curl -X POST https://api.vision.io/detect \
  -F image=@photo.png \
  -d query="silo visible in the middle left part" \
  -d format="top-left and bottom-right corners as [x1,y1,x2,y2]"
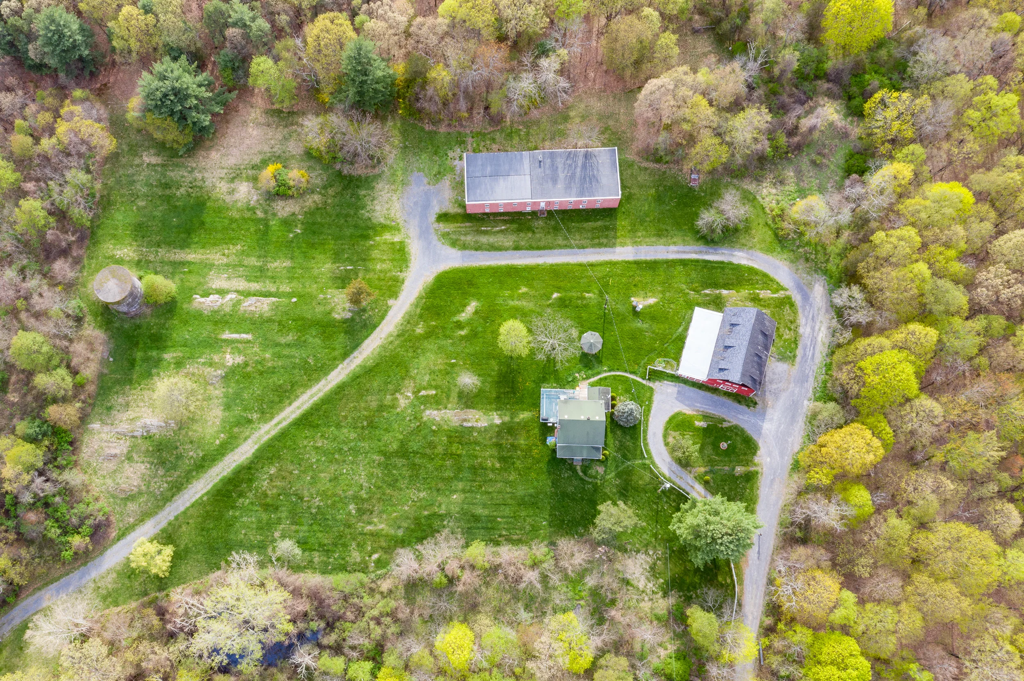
[93,266,152,317]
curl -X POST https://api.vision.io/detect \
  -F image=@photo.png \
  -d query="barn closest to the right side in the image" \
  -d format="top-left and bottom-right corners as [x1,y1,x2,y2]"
[678,306,776,398]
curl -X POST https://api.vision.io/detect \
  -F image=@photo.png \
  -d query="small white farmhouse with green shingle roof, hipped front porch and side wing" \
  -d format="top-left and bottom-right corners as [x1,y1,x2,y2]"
[554,385,612,466]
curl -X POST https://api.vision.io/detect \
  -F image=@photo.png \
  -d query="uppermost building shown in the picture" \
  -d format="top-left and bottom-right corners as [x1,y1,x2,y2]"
[463,145,622,213]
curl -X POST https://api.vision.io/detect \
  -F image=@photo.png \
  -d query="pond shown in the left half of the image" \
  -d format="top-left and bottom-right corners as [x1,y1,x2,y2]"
[209,621,328,676]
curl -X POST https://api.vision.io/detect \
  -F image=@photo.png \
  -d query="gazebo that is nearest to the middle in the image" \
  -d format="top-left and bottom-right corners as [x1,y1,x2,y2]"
[580,333,603,358]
